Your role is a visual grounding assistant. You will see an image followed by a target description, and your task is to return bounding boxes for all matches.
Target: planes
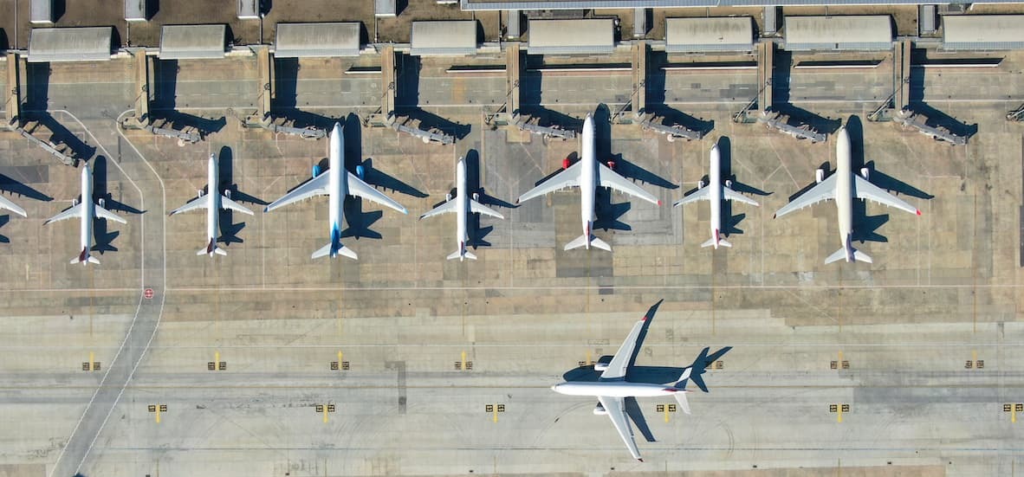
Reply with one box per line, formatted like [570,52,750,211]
[263,122,407,260]
[517,112,661,250]
[551,318,692,462]
[775,125,919,263]
[42,163,125,266]
[0,195,29,217]
[169,154,252,257]
[675,143,758,247]
[420,157,503,260]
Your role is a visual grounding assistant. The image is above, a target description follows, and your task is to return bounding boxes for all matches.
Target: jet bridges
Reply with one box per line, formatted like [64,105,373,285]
[897,118,967,148]
[638,120,702,145]
[513,120,575,144]
[141,125,205,147]
[15,124,79,169]
[389,121,455,147]
[259,121,328,143]
[763,118,826,146]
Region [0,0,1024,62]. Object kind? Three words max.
building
